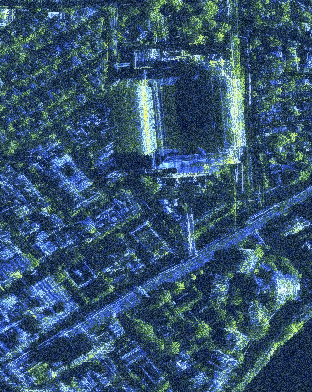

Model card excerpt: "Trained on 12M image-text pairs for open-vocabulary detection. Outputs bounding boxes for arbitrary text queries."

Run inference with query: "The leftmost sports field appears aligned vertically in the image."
[164,82,181,147]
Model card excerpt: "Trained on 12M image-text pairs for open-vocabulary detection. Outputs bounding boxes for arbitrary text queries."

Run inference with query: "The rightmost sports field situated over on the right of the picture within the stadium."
[179,81,224,146]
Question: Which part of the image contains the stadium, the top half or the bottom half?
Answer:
top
